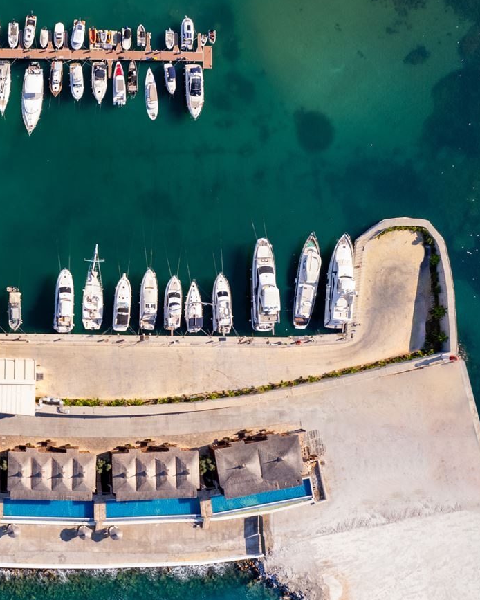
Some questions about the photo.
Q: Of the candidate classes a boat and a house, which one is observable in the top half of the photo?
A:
boat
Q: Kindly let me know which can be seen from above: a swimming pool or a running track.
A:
swimming pool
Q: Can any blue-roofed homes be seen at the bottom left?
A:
No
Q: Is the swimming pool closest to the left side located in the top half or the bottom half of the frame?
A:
bottom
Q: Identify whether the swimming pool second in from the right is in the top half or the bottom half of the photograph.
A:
bottom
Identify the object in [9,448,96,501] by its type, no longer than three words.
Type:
house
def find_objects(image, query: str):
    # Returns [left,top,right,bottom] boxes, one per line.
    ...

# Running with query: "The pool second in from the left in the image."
[105,492,202,526]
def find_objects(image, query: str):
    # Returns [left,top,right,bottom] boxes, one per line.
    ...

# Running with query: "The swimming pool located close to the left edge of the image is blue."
[2,493,94,526]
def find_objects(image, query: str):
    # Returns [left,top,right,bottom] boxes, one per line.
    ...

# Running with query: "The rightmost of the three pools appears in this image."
[211,476,314,521]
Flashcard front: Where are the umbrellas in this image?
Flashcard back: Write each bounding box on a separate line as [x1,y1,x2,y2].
[79,525,92,539]
[109,525,123,539]
[6,522,21,536]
